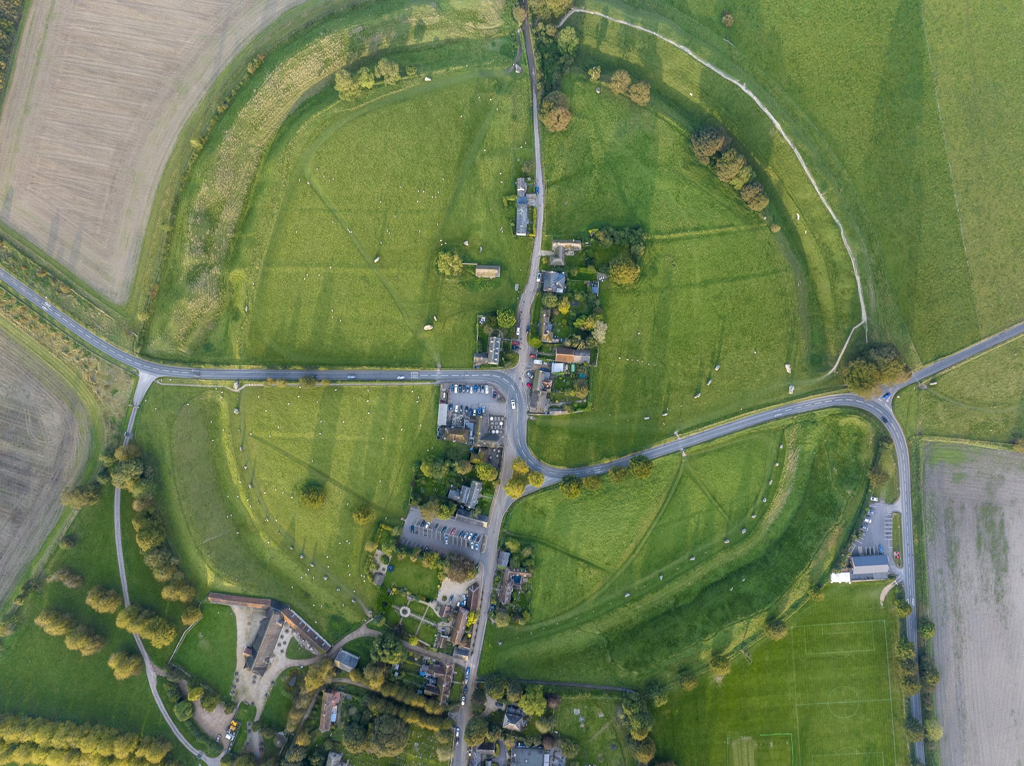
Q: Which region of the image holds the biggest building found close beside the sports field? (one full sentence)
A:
You can find the biggest building found close beside the sports field in the bottom right area of the picture.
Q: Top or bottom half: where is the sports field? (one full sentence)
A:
Seen from above, the sports field lies in the bottom half of the view.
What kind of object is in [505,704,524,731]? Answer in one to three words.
house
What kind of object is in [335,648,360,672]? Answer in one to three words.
shed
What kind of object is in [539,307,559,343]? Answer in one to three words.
house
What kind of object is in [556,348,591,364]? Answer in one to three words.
barn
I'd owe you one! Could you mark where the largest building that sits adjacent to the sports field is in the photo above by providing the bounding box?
[841,553,892,580]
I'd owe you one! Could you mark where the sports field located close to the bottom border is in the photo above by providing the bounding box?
[645,582,909,766]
